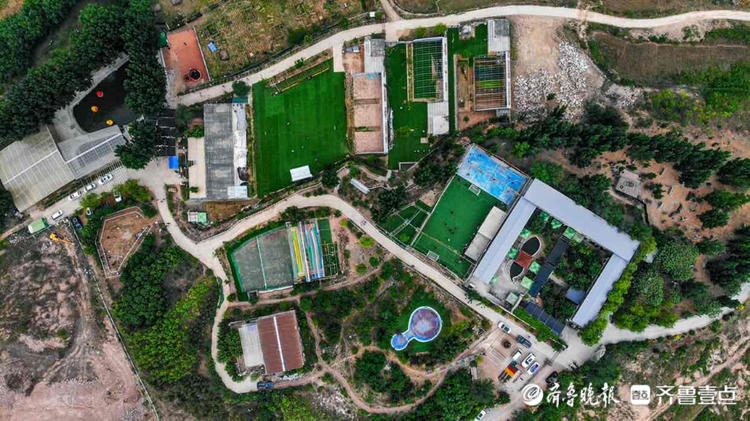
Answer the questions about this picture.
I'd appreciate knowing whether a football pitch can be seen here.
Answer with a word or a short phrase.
Yes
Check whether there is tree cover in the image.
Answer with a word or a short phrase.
Yes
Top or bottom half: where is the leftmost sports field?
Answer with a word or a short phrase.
top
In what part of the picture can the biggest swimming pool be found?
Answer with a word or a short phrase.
bottom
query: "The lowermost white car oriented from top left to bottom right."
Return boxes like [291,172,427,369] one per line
[497,320,513,333]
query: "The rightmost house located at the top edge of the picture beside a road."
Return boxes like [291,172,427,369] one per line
[486,20,510,53]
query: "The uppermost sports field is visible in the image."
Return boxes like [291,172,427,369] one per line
[252,59,350,197]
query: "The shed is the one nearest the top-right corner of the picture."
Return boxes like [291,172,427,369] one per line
[612,171,639,198]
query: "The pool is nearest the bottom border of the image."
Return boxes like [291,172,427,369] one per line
[391,308,442,351]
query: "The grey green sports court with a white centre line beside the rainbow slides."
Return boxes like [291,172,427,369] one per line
[232,228,294,293]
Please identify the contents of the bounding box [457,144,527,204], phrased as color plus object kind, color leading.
blue sports court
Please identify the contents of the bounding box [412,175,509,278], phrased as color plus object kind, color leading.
green soccer field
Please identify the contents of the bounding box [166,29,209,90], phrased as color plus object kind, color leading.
red sports court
